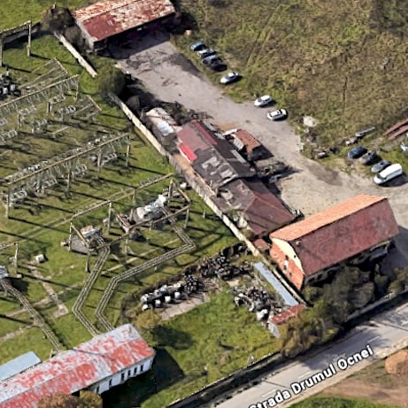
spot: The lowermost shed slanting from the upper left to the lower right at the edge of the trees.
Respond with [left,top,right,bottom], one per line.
[253,263,298,314]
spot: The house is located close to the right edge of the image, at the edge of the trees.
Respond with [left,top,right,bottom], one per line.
[269,195,399,288]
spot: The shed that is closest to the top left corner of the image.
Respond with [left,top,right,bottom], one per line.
[73,0,175,54]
